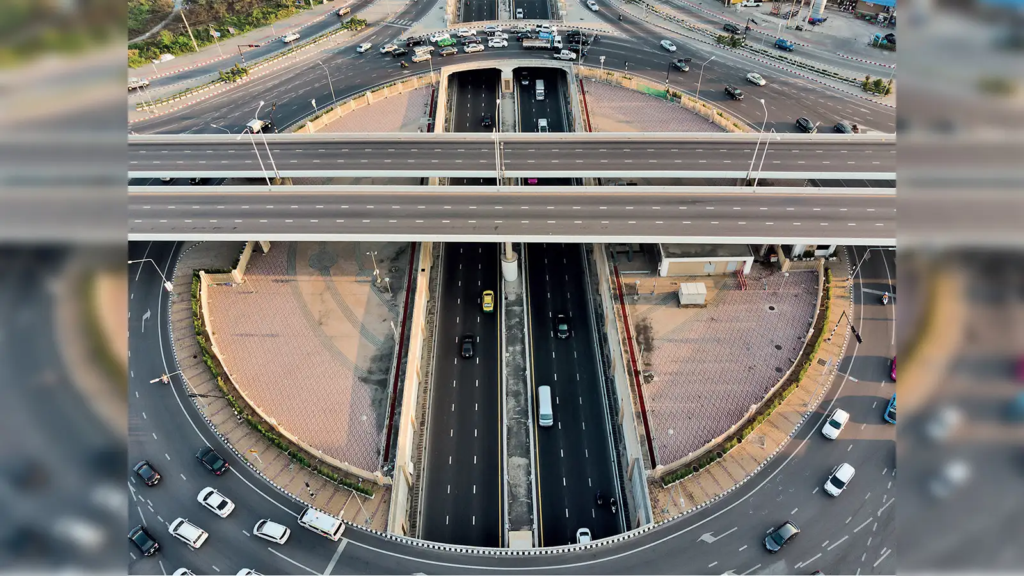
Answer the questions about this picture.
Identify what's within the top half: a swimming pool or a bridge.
bridge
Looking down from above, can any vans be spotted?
Yes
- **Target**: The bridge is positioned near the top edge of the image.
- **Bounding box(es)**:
[393,22,620,97]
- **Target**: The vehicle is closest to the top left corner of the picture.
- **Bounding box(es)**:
[122,79,148,91]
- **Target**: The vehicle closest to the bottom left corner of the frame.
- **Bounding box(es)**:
[126,525,162,559]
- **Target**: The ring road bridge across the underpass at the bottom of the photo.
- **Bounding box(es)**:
[387,520,651,552]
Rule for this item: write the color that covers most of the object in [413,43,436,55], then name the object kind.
white vehicle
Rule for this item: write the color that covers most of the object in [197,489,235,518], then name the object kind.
white car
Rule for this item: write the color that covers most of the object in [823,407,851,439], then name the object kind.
white car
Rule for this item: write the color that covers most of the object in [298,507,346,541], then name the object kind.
white van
